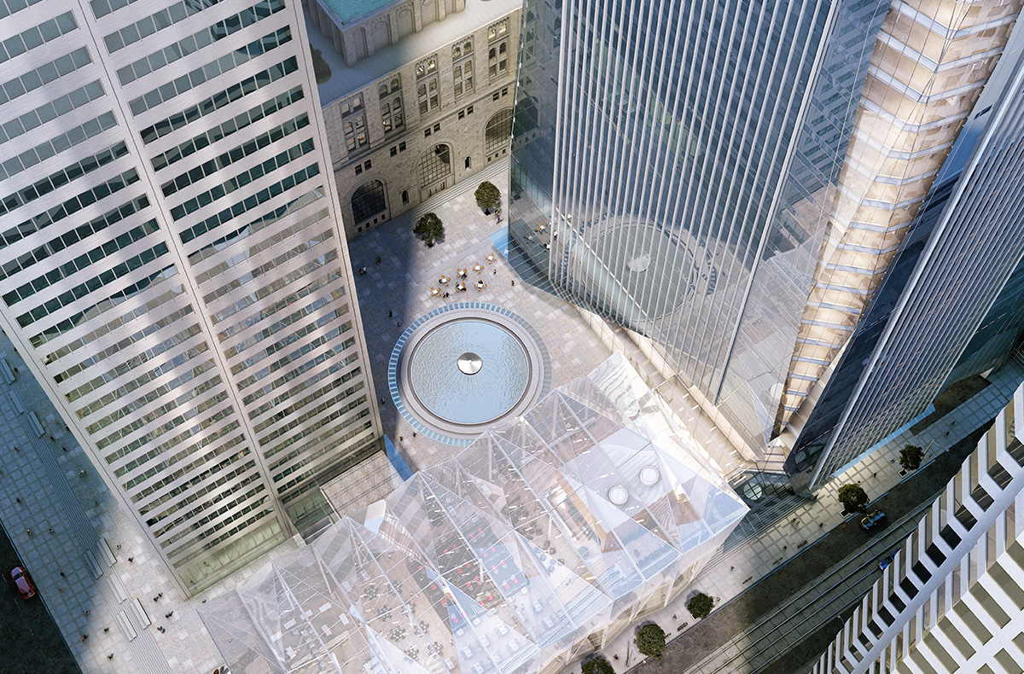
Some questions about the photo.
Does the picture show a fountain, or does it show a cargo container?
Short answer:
fountain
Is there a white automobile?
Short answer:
No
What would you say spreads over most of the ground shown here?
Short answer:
buildings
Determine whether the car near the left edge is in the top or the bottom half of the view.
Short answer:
bottom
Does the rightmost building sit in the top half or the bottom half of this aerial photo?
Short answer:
bottom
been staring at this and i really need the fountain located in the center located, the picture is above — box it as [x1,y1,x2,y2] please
[388,300,552,445]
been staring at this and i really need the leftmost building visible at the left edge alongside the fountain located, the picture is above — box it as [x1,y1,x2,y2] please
[0,0,389,603]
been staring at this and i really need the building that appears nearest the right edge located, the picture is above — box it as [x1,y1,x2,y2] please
[804,378,1024,674]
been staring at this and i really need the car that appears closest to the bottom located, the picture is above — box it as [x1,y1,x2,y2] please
[9,565,39,606]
